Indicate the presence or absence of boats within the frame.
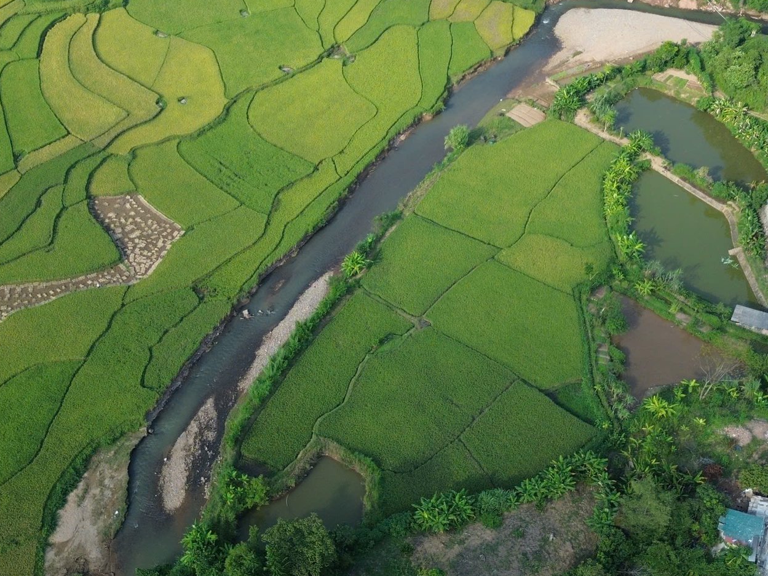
No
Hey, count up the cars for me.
0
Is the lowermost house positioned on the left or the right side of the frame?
right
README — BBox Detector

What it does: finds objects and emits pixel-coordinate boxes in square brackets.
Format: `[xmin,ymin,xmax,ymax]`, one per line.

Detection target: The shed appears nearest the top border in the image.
[732,304,768,332]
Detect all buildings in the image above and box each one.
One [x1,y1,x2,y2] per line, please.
[732,304,768,332]
[717,508,768,552]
